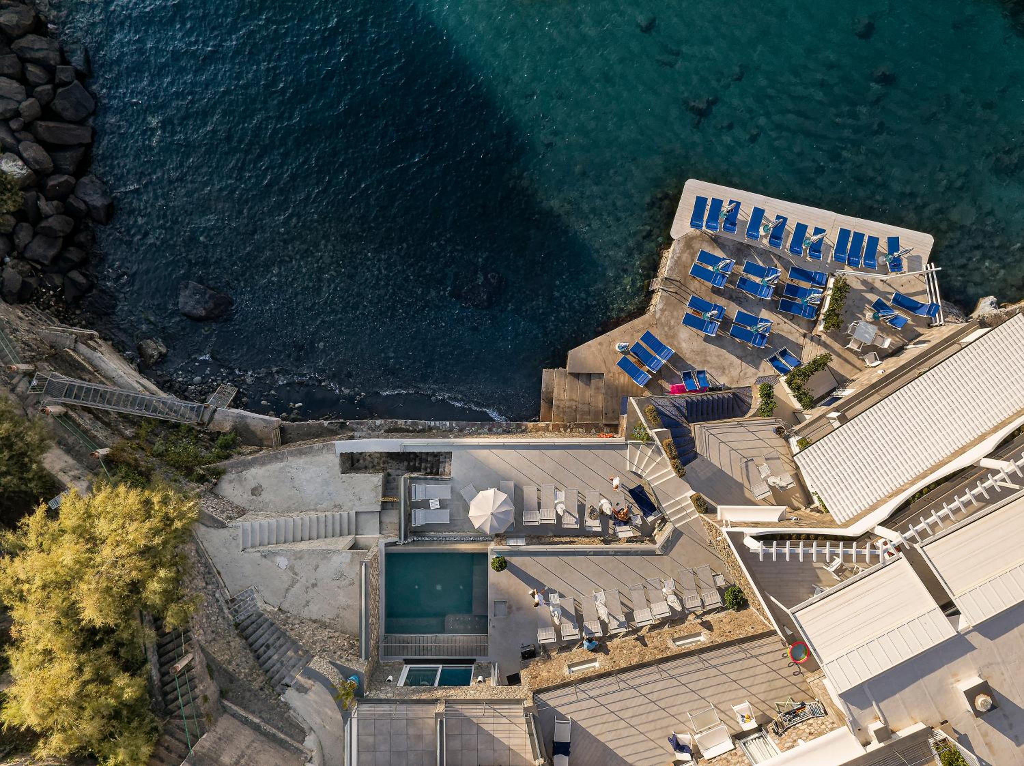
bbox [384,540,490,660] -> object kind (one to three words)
swimming pool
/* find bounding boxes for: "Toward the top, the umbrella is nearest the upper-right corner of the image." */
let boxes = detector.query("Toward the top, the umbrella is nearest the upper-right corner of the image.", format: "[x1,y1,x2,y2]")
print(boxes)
[877,249,911,265]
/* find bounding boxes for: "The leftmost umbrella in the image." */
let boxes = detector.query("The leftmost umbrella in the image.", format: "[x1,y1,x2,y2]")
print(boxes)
[467,485,518,537]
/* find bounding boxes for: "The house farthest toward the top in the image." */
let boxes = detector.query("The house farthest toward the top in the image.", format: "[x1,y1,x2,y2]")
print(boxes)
[785,305,1024,525]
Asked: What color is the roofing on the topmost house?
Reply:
white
